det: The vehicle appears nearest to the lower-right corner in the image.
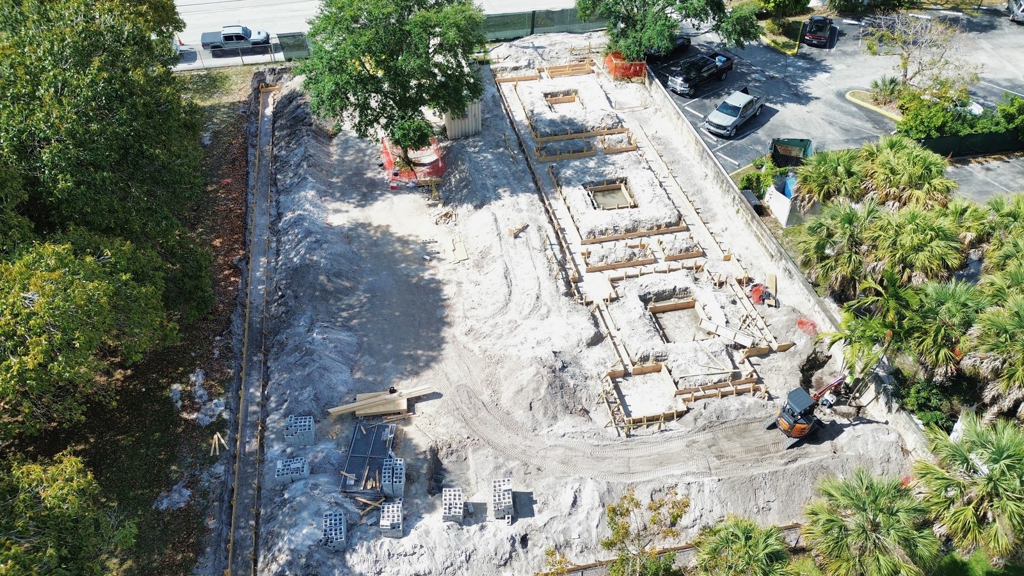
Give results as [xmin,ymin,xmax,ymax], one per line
[766,368,853,456]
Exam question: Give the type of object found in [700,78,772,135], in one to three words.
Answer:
truck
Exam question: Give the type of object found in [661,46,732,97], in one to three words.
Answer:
truck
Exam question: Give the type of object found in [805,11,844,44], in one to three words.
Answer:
car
